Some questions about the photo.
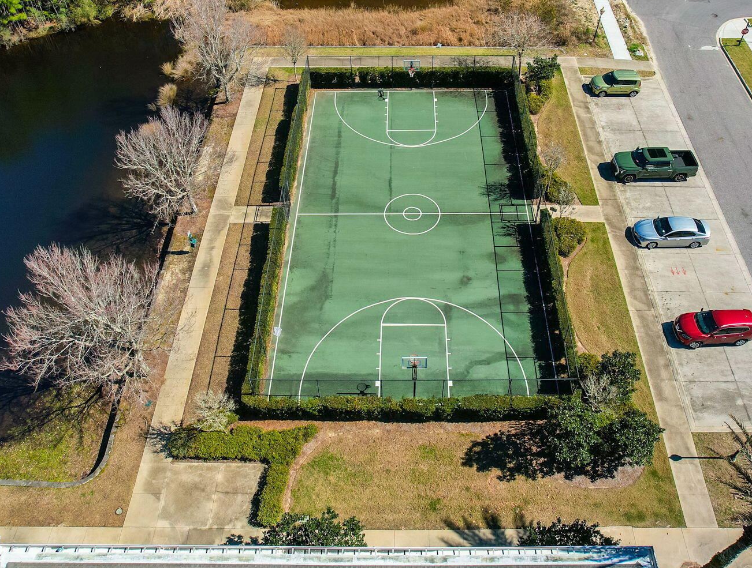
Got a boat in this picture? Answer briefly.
No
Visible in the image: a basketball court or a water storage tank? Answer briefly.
basketball court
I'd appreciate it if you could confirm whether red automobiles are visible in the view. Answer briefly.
Yes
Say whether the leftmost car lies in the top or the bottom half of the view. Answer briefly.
top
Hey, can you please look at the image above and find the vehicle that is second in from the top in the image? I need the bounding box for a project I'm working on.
[612,150,703,187]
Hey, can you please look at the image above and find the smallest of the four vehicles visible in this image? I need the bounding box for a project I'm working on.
[590,71,644,98]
